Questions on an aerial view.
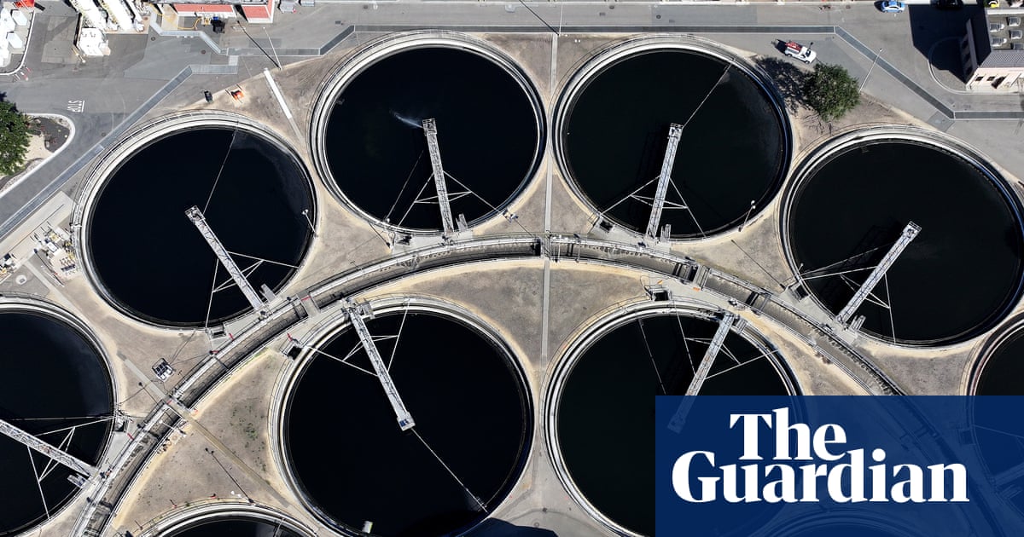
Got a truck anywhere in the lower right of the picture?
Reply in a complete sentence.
No, looking in the lower right of the picture, there is no truck.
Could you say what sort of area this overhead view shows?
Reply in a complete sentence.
This image shows an industrial area.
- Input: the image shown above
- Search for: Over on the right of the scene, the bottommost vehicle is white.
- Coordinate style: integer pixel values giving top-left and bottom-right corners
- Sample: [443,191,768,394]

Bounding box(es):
[782,39,820,67]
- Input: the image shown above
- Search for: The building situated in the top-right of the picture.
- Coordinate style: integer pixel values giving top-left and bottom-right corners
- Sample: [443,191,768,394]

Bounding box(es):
[959,6,1024,104]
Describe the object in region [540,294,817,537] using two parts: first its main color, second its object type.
black storage tank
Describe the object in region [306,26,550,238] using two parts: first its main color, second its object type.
black storage tank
